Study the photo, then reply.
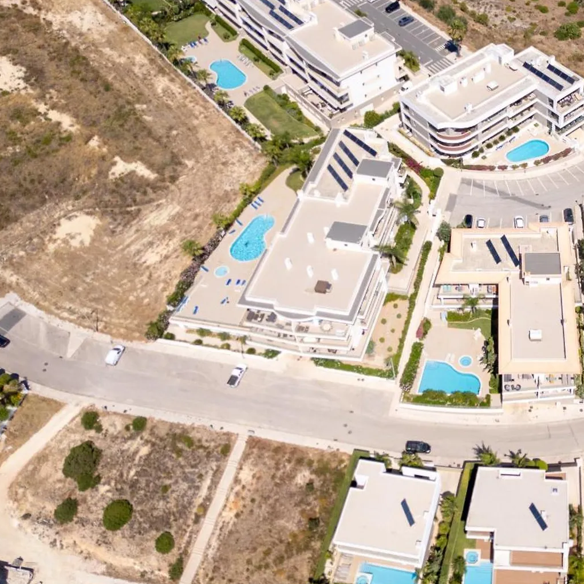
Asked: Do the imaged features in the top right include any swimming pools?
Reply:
Yes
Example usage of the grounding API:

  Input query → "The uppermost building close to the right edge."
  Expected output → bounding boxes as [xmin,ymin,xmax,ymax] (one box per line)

[400,42,584,166]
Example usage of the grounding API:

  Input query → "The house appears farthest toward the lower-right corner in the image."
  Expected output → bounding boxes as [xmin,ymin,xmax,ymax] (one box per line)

[466,466,568,578]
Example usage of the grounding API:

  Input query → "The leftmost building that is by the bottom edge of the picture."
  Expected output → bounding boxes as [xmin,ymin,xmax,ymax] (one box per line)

[334,458,441,576]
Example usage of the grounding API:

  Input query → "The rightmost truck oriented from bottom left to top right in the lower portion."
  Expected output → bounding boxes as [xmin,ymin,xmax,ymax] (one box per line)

[222,362,251,389]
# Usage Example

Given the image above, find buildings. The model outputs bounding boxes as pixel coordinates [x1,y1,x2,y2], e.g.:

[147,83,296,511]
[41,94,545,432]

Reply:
[206,0,406,125]
[334,458,441,576]
[400,42,584,166]
[238,126,414,366]
[466,466,568,578]
[432,223,582,408]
